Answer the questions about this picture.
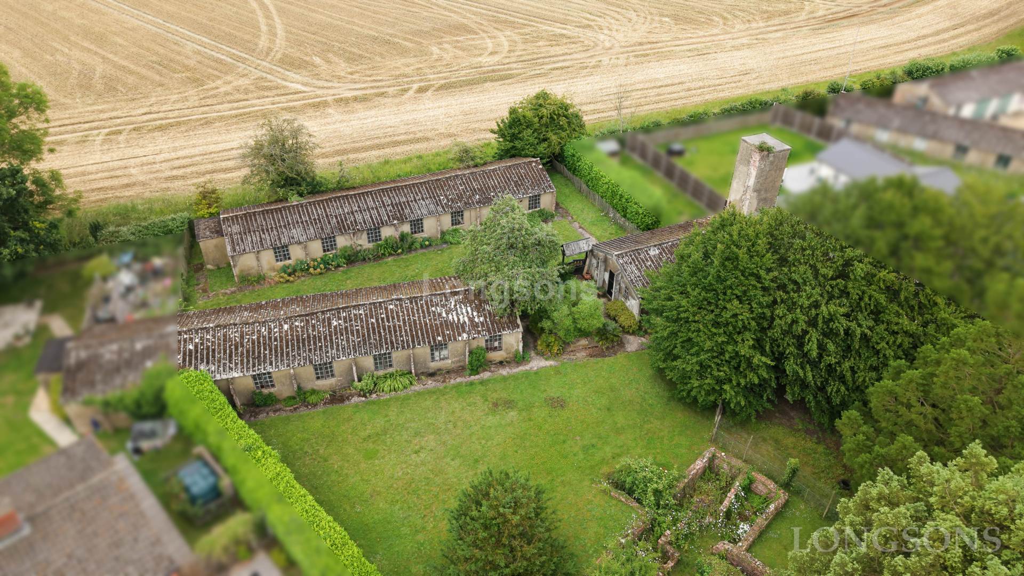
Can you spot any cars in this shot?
No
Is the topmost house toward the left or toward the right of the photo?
right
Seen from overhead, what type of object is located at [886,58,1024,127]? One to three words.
house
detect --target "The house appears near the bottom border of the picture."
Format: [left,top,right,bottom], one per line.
[0,434,207,576]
